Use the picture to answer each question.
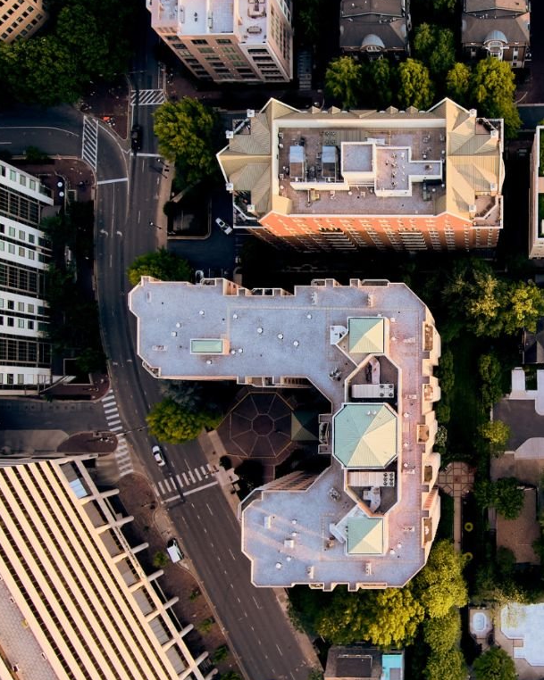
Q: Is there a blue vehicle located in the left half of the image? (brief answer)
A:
No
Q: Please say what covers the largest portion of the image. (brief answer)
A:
buildings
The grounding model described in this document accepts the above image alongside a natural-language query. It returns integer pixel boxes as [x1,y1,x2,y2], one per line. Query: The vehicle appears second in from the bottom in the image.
[150,446,164,467]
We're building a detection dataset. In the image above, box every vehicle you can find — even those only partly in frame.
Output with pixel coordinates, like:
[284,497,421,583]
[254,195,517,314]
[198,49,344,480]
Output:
[162,538,182,566]
[150,446,164,467]
[214,216,232,235]
[128,122,140,146]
